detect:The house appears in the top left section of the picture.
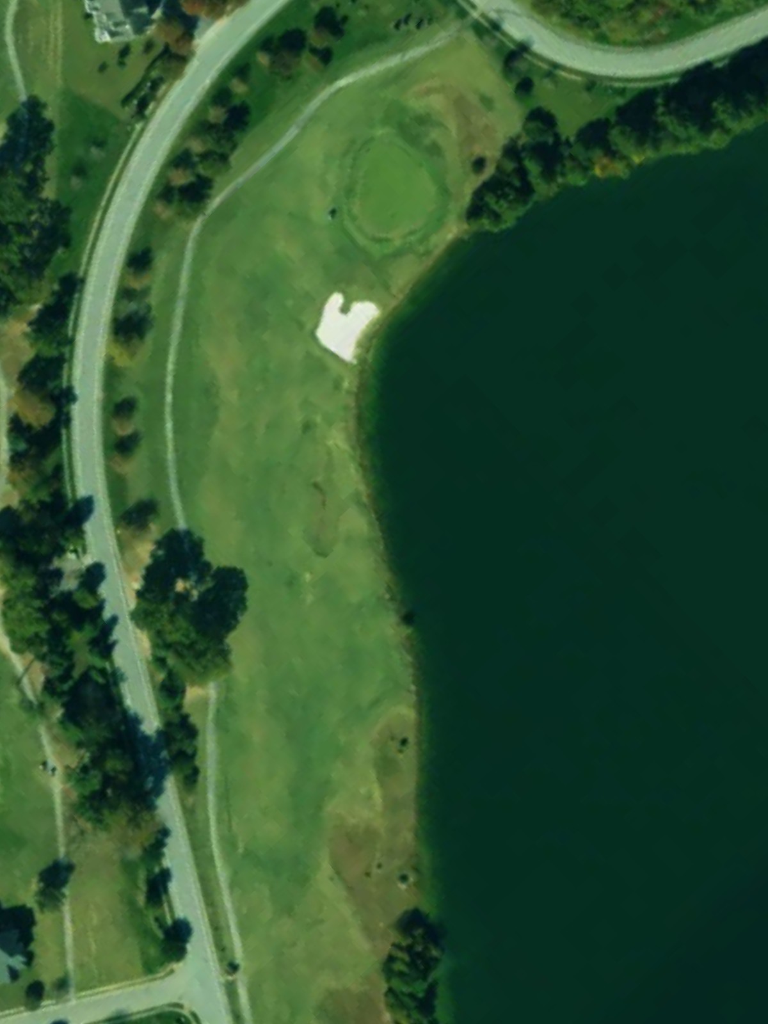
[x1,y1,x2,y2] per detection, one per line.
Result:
[86,0,150,42]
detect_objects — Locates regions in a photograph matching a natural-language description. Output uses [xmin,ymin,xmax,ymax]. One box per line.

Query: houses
[86,0,150,42]
[0,946,26,986]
